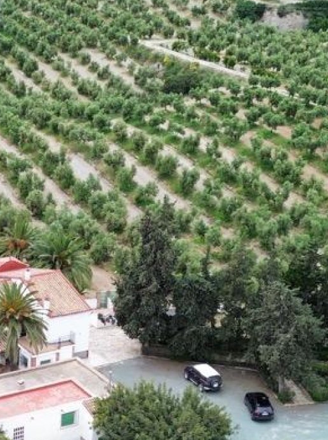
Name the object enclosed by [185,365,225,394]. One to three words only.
car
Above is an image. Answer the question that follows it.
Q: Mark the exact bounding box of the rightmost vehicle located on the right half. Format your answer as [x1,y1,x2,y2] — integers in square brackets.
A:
[244,396,273,422]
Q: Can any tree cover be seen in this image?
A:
Yes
